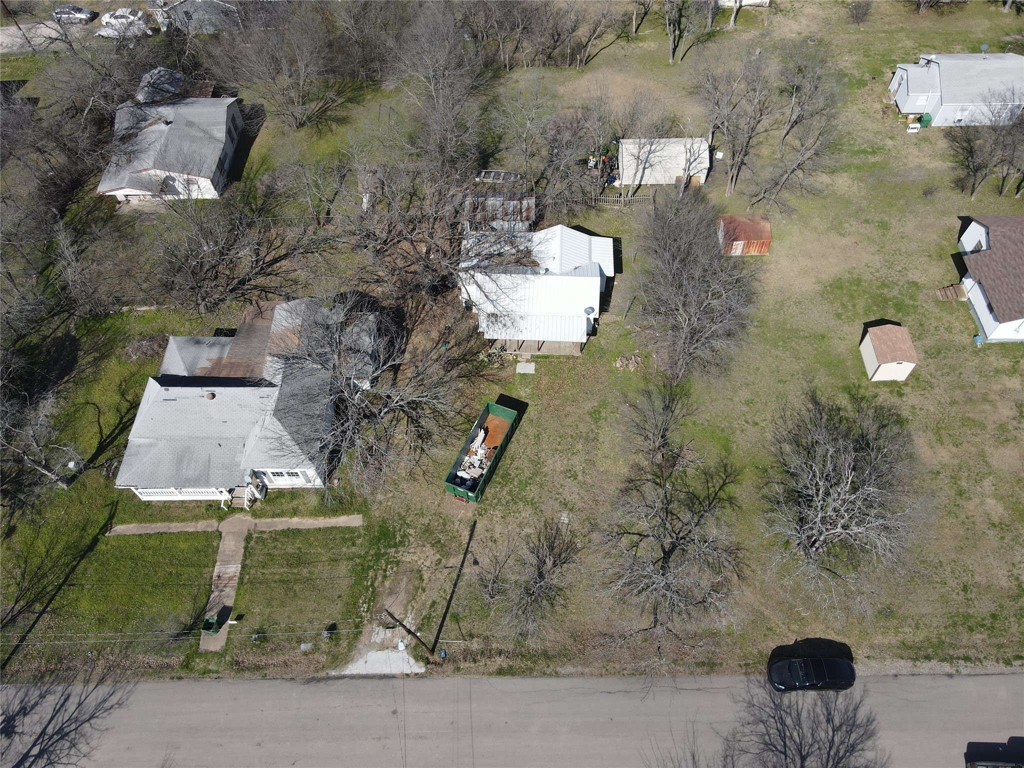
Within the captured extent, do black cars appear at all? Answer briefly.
Yes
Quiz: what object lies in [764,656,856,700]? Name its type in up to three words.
car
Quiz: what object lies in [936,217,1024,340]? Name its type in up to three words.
house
